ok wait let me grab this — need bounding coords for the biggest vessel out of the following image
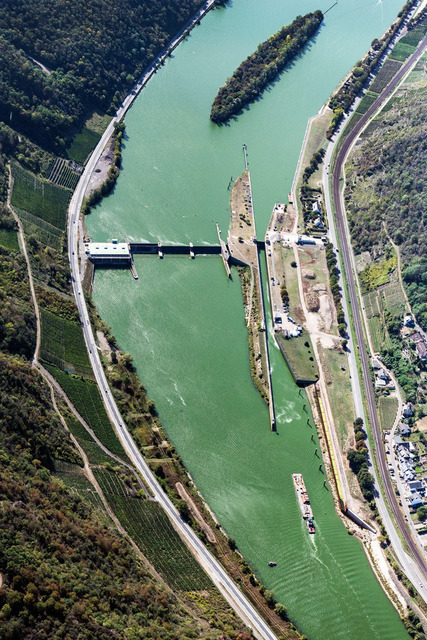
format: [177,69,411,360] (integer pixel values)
[293,473,313,519]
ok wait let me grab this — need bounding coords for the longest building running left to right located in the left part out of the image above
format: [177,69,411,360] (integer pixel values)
[89,241,131,261]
